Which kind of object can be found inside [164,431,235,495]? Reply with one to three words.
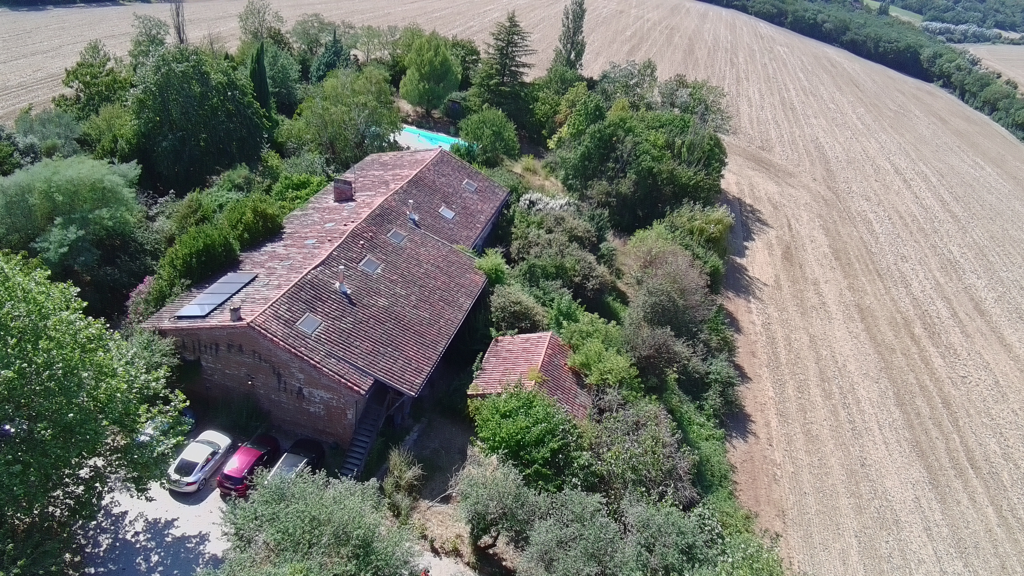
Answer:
car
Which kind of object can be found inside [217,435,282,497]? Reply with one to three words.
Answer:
car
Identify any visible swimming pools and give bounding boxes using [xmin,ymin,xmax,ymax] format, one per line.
[377,118,503,168]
